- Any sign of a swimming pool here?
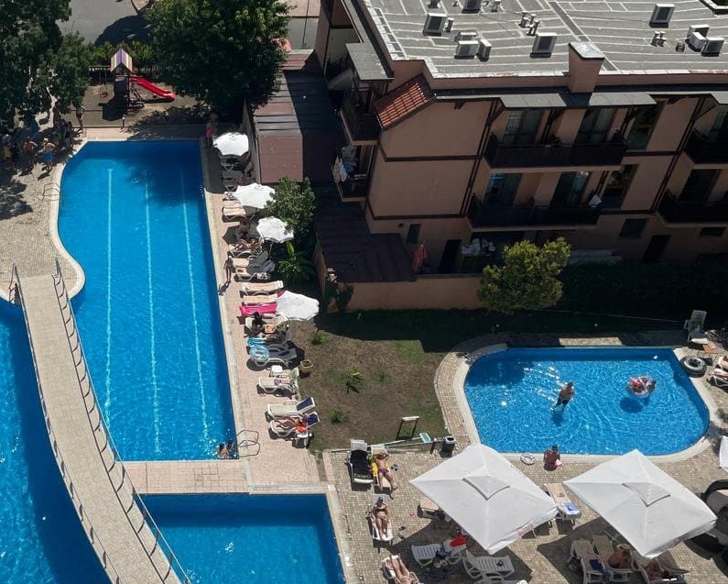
Yes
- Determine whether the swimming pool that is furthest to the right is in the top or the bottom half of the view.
bottom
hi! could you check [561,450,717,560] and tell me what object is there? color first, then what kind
white umbrella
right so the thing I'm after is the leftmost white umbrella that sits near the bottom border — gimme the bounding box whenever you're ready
[410,443,557,557]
